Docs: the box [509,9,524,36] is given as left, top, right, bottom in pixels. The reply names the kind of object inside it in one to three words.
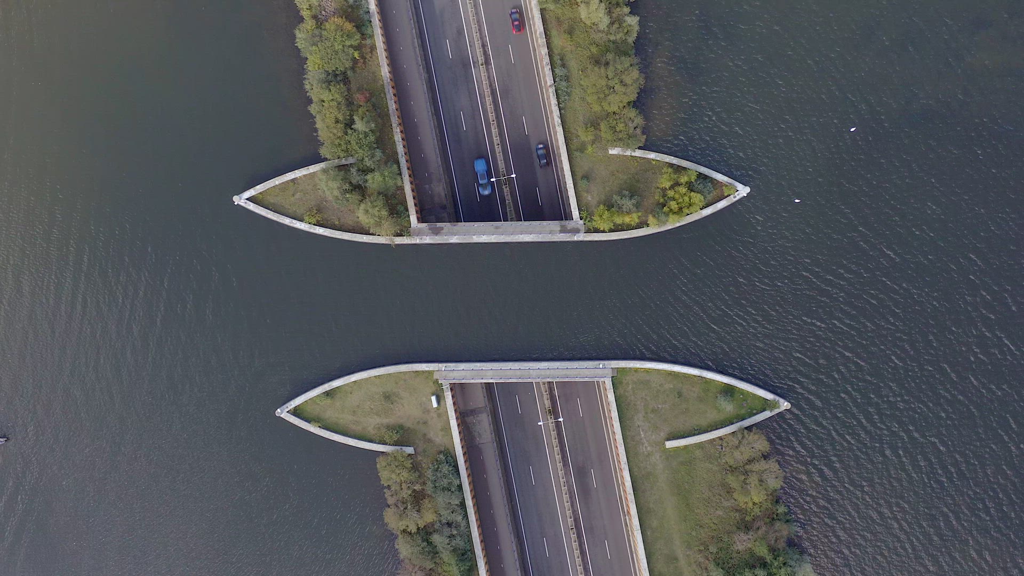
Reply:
car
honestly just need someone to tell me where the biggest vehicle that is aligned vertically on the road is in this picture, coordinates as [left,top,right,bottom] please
[473,158,492,195]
